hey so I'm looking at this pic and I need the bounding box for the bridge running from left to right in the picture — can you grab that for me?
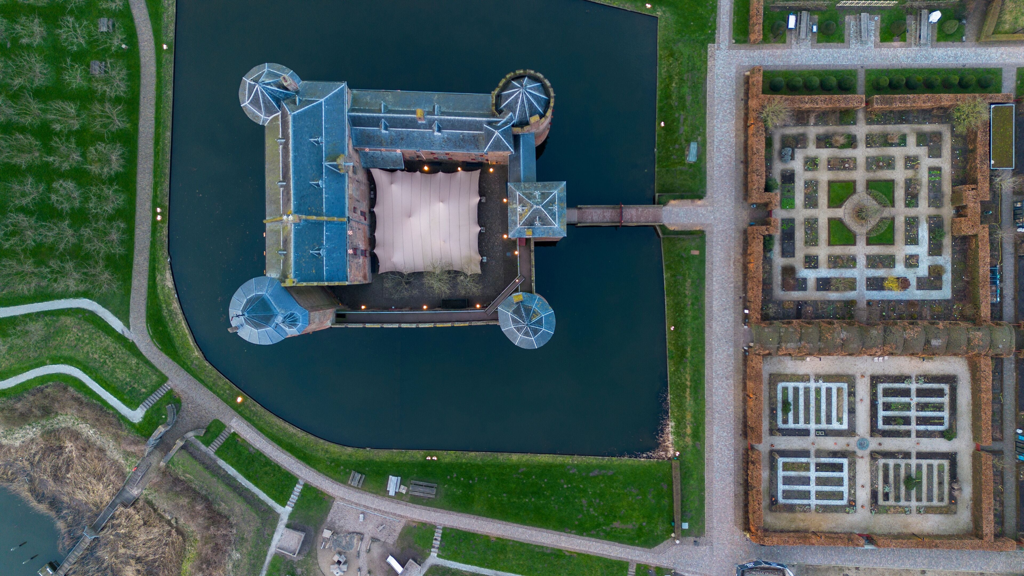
[566,204,663,227]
